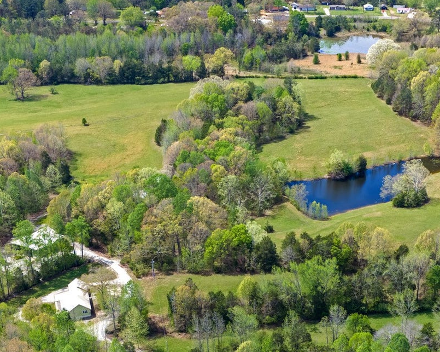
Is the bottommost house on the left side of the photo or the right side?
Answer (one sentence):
The bottommost house sits on the left side.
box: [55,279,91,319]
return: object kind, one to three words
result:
house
